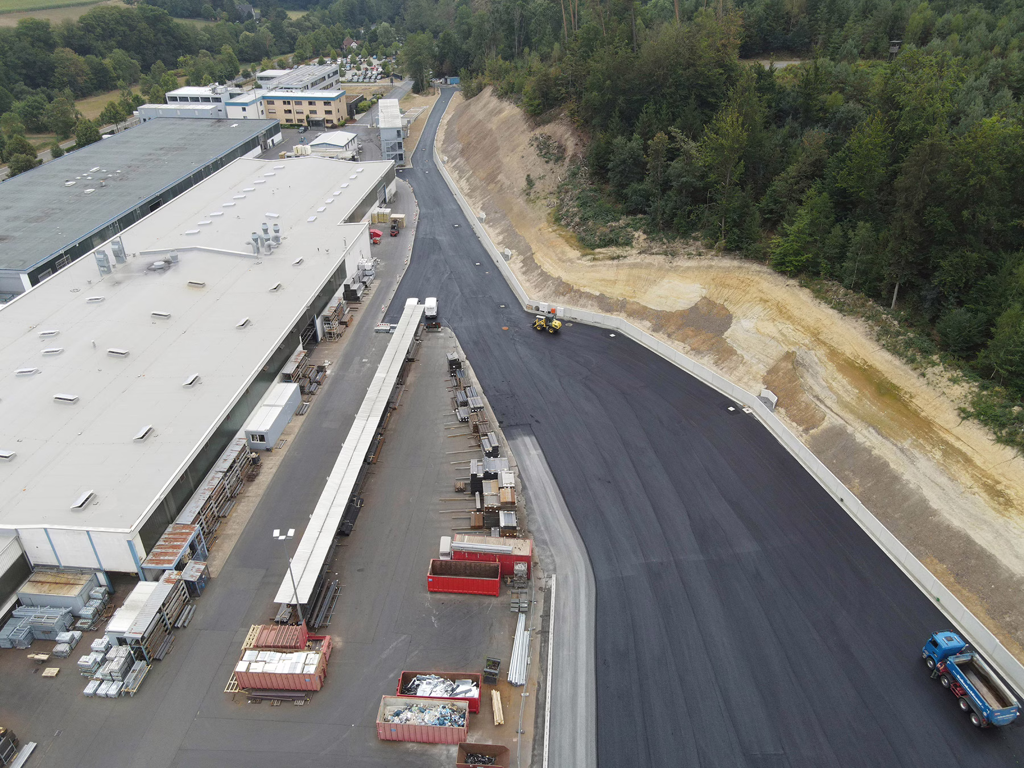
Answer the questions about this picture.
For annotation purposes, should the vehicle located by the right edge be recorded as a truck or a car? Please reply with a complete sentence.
The vehicle located by the right edge in the image is a truck.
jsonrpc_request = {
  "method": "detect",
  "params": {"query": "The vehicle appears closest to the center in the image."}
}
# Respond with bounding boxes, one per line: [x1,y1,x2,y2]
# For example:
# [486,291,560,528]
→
[528,313,563,332]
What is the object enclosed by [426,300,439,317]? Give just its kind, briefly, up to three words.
vehicle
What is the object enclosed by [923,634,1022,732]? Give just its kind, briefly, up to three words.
truck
